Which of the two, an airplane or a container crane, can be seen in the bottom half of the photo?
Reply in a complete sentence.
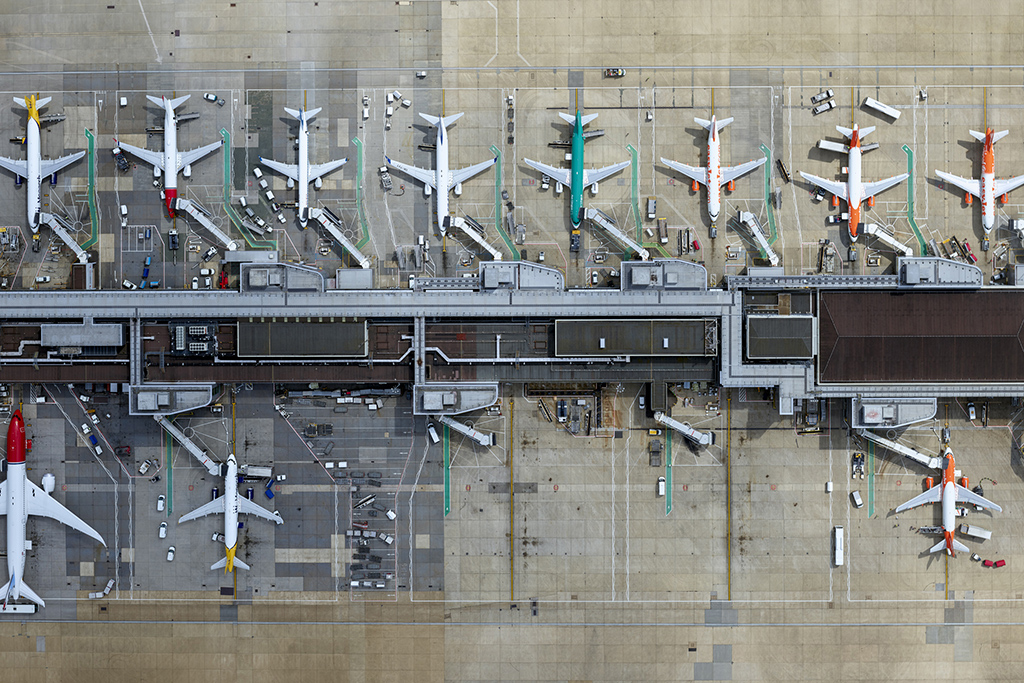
What appears in the bottom half of the photo is an airplane.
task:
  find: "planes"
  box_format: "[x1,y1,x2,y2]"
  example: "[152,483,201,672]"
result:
[386,111,496,236]
[0,409,107,609]
[801,123,909,242]
[113,93,223,218]
[0,93,87,233]
[177,453,284,571]
[895,447,1005,555]
[524,110,631,228]
[258,106,347,228]
[660,115,768,222]
[934,126,1024,235]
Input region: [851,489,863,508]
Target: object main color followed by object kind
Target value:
white vehicle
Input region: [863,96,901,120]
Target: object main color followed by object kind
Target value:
white bus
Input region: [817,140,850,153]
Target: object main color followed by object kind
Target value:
white vehicle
